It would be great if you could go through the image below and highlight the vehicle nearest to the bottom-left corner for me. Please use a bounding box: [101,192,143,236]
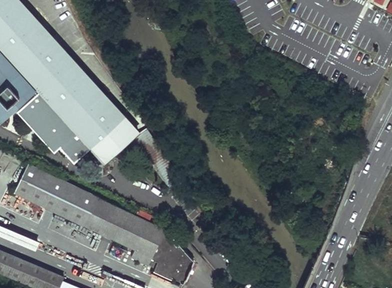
[73,269,102,286]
